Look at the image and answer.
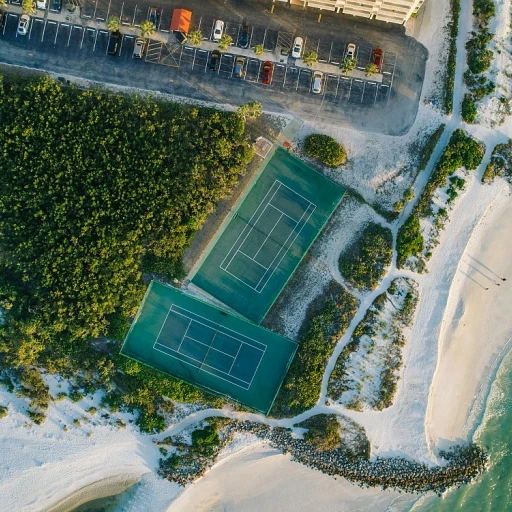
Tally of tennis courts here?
2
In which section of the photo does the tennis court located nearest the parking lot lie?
center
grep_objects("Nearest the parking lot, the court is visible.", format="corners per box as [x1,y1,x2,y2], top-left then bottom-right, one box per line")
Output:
[192,150,344,324]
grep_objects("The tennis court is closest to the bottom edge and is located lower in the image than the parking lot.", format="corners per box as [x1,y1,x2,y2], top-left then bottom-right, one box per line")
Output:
[121,280,298,416]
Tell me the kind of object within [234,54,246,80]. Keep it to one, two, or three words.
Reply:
vehicle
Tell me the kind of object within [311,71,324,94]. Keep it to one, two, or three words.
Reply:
vehicle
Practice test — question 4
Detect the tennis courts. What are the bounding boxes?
[192,150,344,324]
[121,280,298,416]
